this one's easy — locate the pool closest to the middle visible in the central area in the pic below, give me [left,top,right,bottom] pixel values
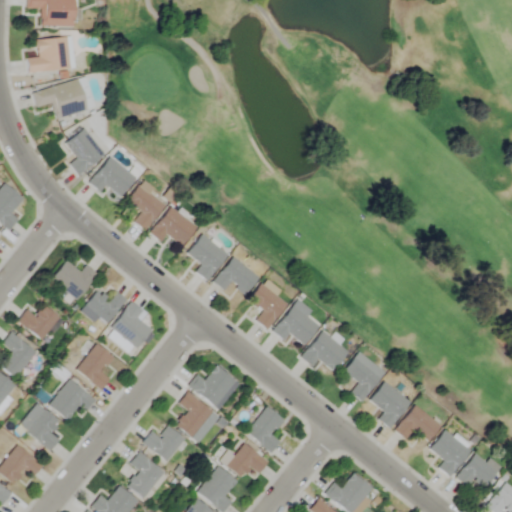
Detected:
[217,232,233,249]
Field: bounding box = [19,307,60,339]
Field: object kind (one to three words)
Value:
house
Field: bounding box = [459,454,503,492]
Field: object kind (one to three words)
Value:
house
